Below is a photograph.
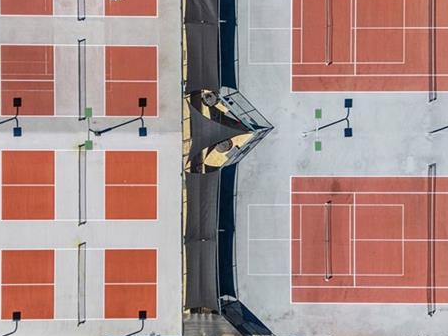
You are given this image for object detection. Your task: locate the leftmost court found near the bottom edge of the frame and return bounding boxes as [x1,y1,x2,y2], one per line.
[1,249,157,321]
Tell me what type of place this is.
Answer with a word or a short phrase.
sports ground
